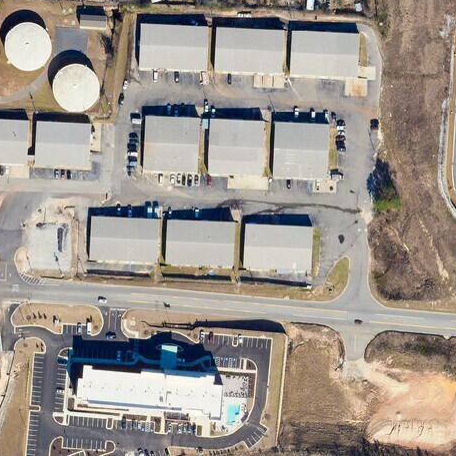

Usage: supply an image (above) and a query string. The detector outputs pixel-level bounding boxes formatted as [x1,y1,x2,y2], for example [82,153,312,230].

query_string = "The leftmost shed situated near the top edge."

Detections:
[81,14,107,29]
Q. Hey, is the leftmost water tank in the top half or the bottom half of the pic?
top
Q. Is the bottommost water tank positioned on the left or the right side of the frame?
left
